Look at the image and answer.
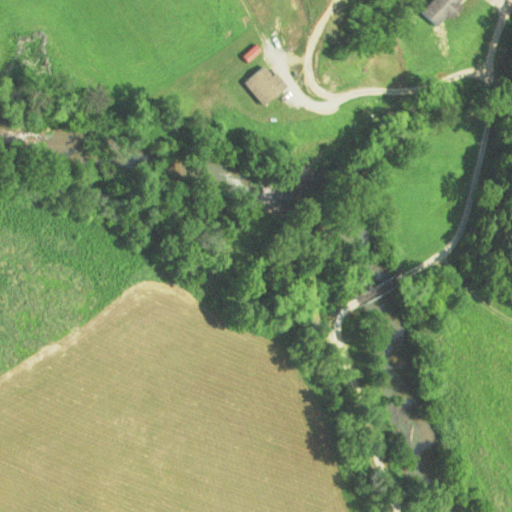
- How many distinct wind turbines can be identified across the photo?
0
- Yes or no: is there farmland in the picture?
Yes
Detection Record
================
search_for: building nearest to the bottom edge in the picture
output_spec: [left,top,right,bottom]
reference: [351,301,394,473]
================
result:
[246,66,284,104]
